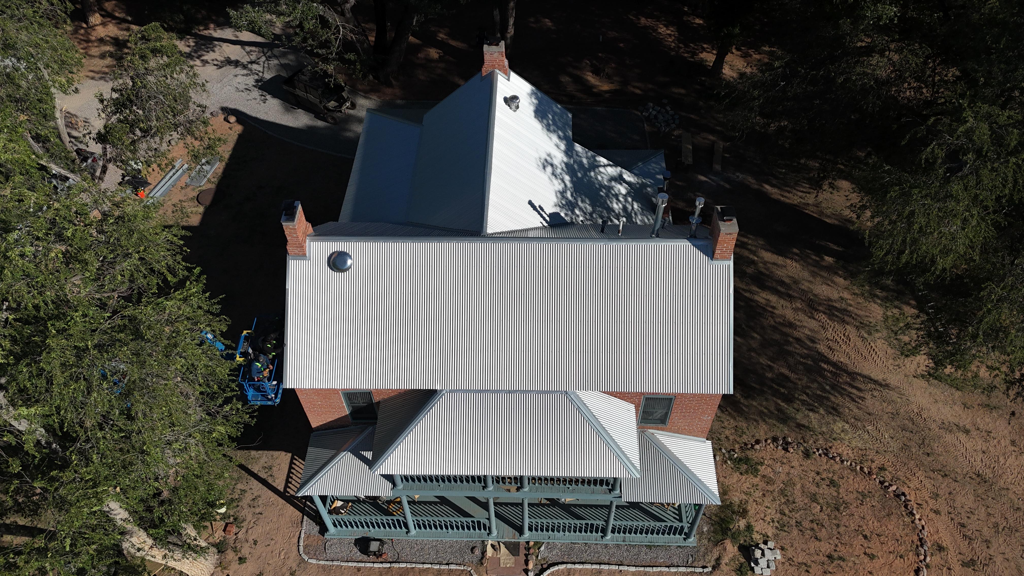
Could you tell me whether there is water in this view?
No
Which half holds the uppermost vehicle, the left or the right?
left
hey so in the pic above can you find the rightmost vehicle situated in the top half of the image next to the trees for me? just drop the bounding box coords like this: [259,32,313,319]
[283,65,353,127]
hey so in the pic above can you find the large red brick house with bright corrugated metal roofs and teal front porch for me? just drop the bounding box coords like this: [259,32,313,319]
[277,39,740,550]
